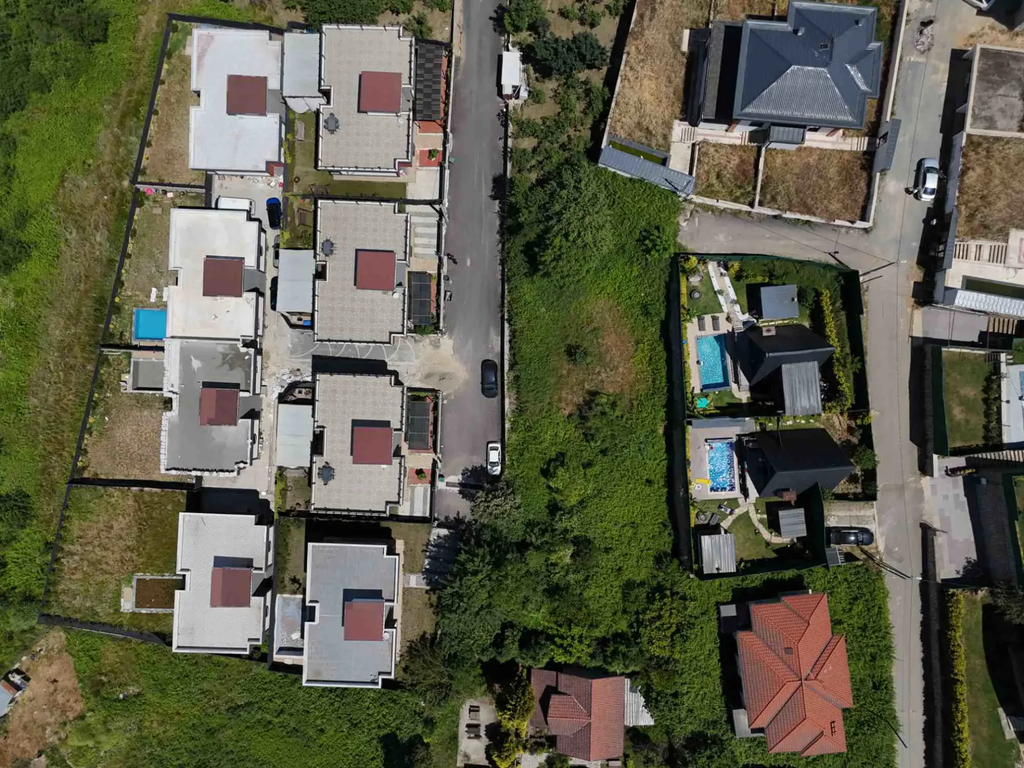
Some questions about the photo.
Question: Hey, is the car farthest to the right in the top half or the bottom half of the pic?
top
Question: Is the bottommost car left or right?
right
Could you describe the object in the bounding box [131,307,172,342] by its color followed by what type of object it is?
blue swimming pool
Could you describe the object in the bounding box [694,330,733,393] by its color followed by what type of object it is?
blue swimming pool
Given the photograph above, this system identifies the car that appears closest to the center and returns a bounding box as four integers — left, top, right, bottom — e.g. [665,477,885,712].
[480,360,499,397]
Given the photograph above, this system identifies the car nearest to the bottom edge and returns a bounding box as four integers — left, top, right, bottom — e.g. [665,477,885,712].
[829,526,874,547]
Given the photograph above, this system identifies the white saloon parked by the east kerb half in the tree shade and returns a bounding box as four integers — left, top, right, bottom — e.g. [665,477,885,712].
[486,440,503,476]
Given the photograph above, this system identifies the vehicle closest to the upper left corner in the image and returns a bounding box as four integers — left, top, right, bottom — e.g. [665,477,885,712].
[213,195,256,215]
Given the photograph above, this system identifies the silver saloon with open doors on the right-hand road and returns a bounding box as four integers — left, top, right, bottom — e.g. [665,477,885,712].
[910,160,944,202]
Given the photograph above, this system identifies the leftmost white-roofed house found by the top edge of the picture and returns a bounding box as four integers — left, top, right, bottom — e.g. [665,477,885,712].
[189,29,292,180]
